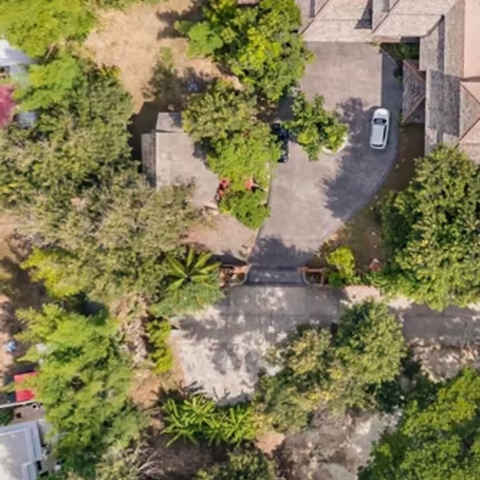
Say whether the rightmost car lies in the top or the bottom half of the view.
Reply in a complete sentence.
It is in the top half that the rightmost car appears.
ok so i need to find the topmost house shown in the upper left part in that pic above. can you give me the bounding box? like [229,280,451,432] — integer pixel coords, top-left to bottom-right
[0,38,43,85]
